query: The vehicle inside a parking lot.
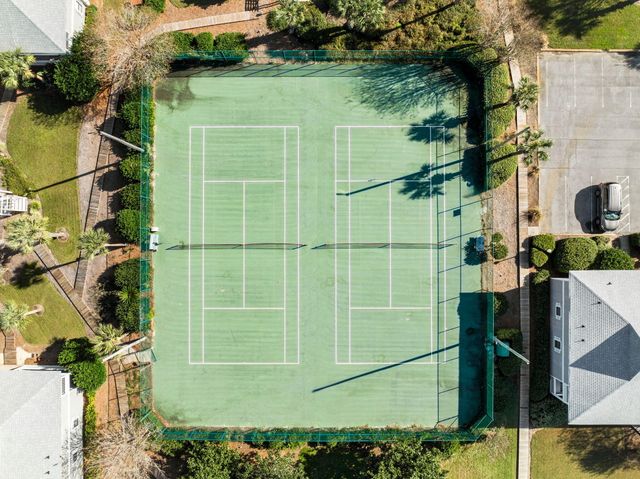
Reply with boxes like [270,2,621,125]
[594,182,622,232]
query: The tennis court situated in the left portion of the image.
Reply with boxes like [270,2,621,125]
[154,63,317,427]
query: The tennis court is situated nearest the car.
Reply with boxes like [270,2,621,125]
[317,63,481,427]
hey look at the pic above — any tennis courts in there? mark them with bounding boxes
[317,63,481,427]
[154,63,317,427]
